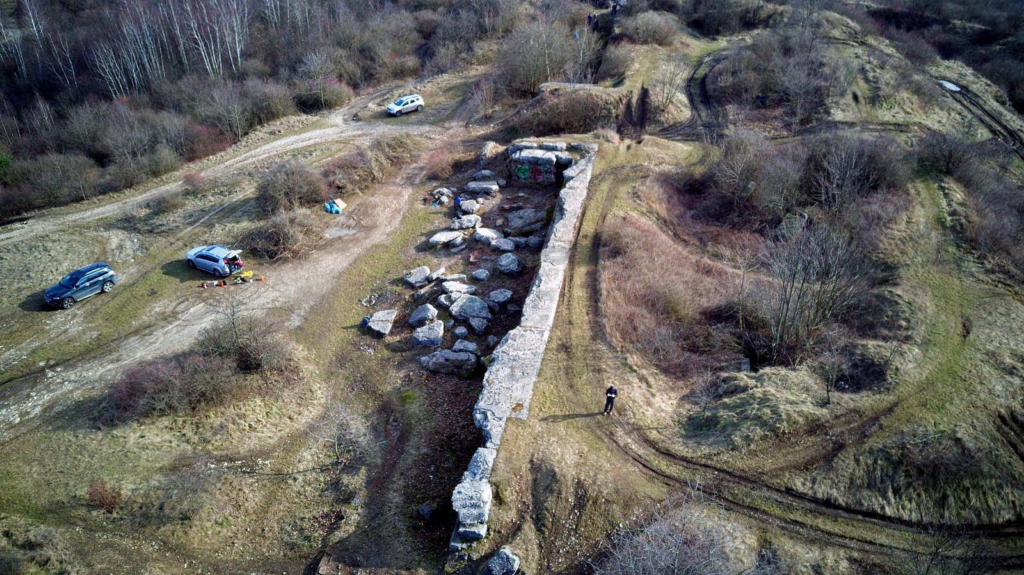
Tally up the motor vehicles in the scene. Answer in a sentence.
In total, there are 3 motor vehicles in the scene.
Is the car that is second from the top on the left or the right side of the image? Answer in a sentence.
The car that is second from the top appears in the left half of the scene.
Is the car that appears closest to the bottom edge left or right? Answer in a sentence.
It is on the left.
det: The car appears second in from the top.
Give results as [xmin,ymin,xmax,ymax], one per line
[185,244,239,276]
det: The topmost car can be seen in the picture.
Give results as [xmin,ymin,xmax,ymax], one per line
[389,94,426,116]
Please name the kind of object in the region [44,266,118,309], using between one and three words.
car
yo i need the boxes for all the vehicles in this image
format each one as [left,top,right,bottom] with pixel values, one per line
[389,94,426,116]
[44,266,118,309]
[185,244,239,276]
